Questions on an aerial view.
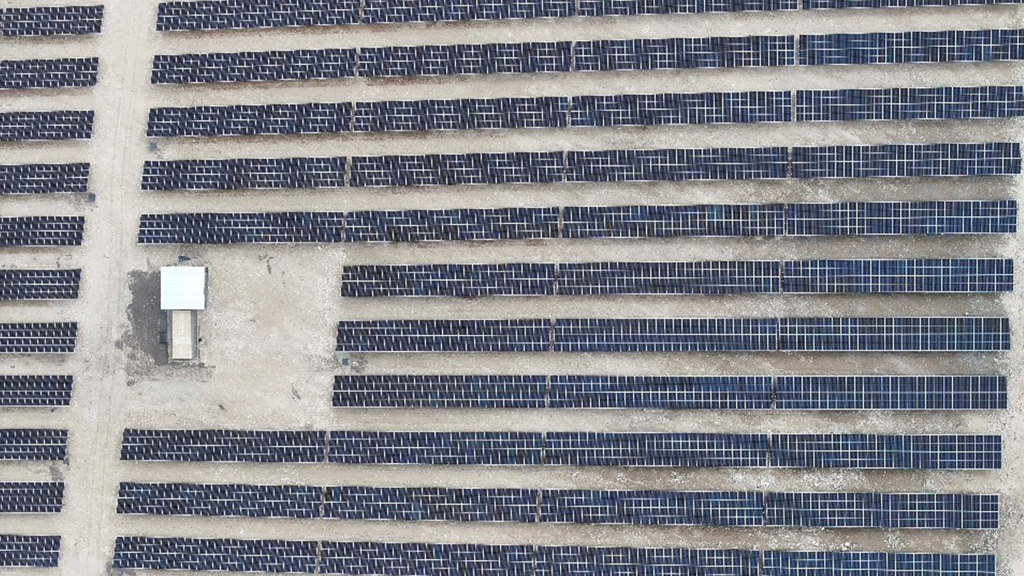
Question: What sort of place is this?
solar farm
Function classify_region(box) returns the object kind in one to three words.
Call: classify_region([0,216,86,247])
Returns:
solar array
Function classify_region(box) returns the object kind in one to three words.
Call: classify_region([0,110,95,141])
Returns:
solar array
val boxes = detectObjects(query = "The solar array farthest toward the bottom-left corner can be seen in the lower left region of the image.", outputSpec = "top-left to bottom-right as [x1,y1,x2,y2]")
[0,534,61,567]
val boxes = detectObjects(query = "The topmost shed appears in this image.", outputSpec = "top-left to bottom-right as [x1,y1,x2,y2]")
[161,266,213,310]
